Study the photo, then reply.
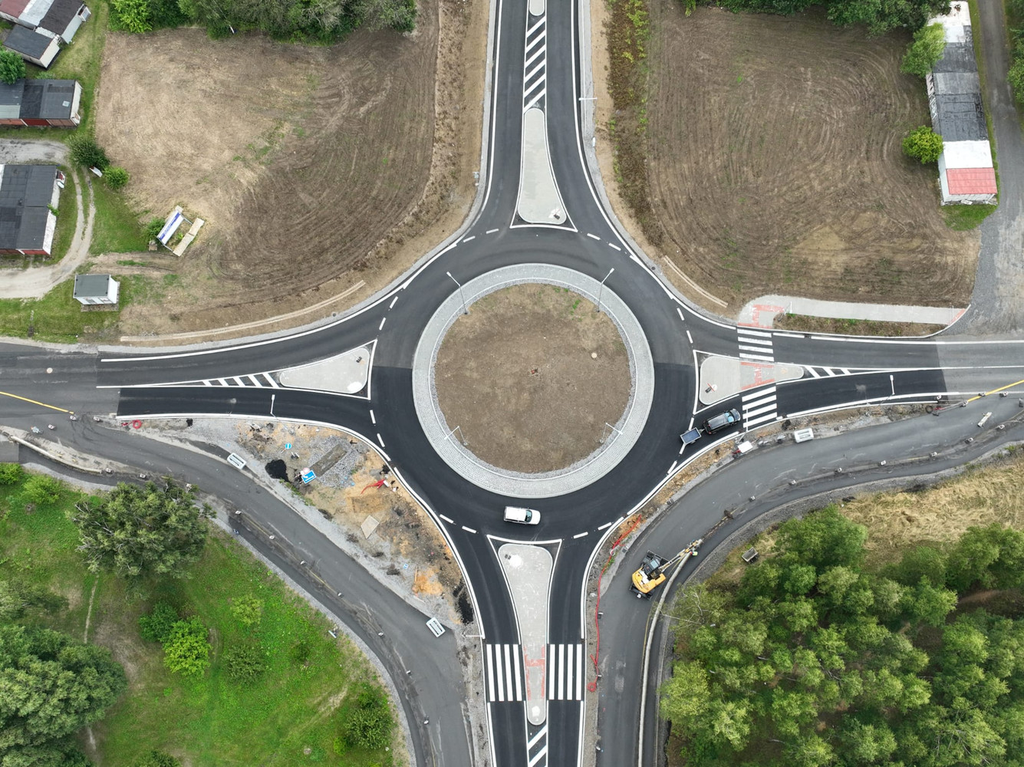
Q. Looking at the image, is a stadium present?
No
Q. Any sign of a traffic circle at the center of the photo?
Yes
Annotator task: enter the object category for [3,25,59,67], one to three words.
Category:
building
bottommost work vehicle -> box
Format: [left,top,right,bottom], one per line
[629,536,704,602]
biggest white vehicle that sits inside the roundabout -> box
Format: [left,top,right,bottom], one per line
[504,509,540,527]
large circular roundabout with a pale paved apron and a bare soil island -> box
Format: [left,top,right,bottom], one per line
[371,231,696,546]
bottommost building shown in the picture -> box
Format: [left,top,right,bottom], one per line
[74,275,117,304]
